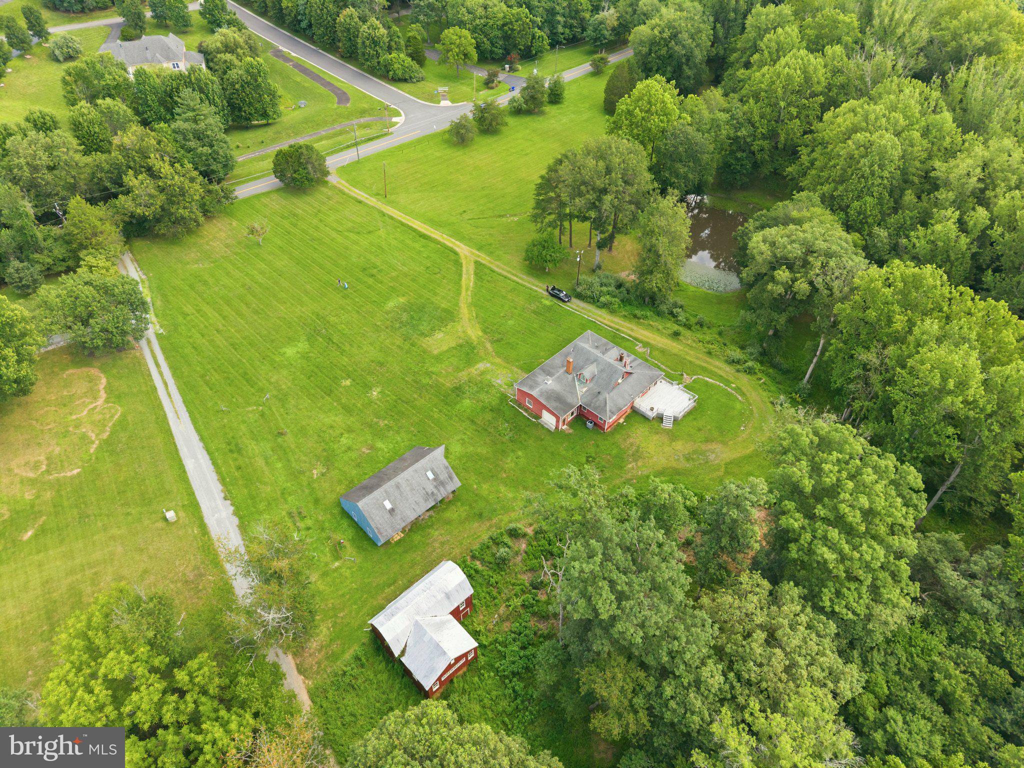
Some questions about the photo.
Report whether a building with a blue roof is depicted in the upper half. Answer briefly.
No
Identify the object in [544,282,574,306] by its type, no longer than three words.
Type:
car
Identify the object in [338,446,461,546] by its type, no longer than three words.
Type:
barn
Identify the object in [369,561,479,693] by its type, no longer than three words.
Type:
barn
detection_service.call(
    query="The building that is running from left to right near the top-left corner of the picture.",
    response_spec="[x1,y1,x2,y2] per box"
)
[102,33,209,80]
